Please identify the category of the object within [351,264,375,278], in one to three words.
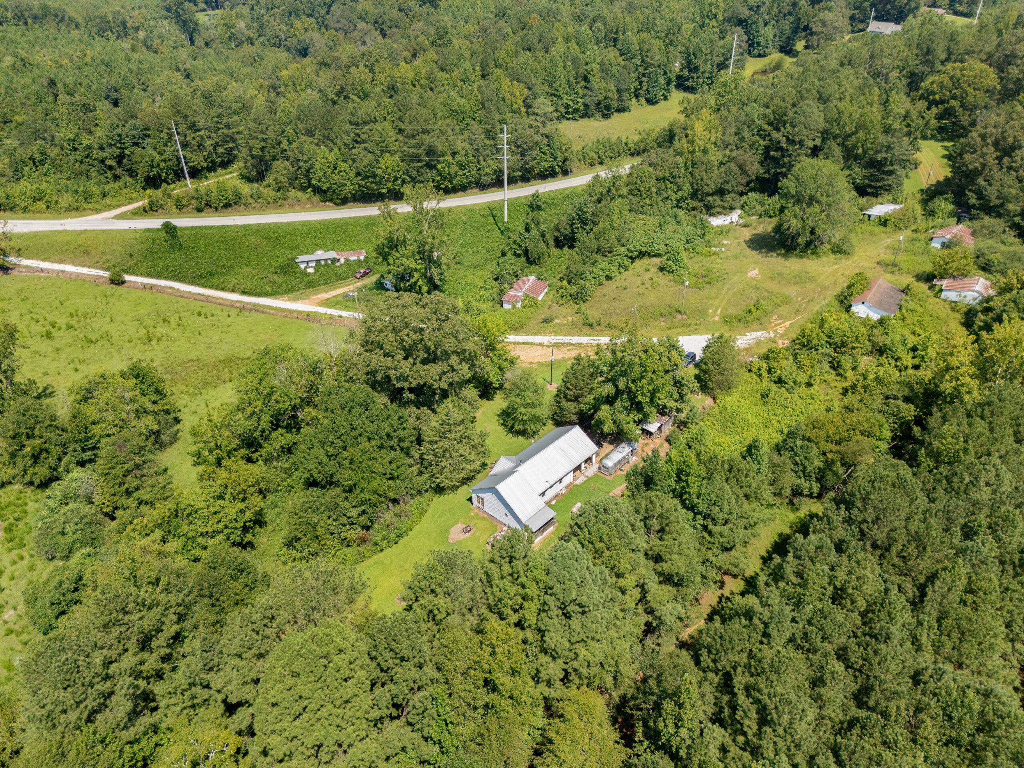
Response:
vehicle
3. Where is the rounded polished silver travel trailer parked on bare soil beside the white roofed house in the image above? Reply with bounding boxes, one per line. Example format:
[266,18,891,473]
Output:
[597,435,641,474]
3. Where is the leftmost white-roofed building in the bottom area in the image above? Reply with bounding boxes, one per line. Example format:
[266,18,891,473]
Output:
[472,424,600,544]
